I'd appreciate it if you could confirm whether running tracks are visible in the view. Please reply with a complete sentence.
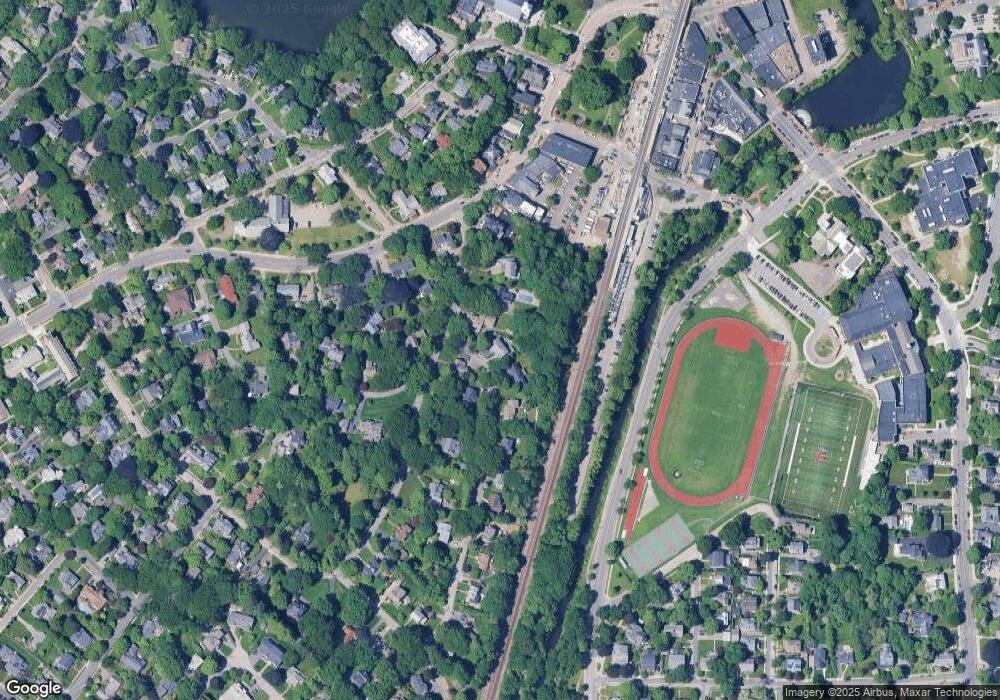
Yes, I can see a running track in this picture.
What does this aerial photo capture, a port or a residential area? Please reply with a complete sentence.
The area seen from above is a residential area.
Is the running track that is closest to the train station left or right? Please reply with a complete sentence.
The running track that is closest to the train station appears in the right half of the scene.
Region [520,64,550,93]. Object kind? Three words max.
house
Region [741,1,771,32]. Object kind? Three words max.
building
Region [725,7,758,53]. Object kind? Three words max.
building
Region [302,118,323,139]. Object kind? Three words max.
house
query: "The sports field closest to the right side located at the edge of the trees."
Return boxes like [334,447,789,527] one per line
[771,380,871,519]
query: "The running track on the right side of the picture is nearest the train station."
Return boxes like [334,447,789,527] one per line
[646,317,787,507]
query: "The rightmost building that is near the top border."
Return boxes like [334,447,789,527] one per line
[951,30,989,75]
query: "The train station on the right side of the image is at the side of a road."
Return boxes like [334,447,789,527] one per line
[604,168,653,292]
